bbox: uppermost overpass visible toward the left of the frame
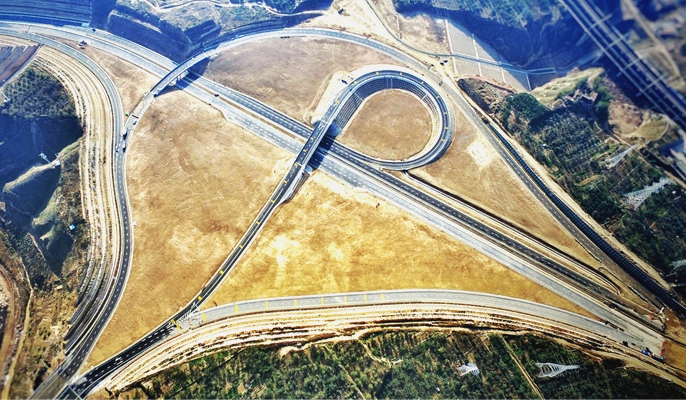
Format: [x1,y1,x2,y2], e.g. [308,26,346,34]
[147,42,230,96]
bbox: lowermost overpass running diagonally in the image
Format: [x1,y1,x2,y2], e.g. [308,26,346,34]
[291,121,328,170]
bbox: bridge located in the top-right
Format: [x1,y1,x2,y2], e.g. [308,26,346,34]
[555,0,686,144]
